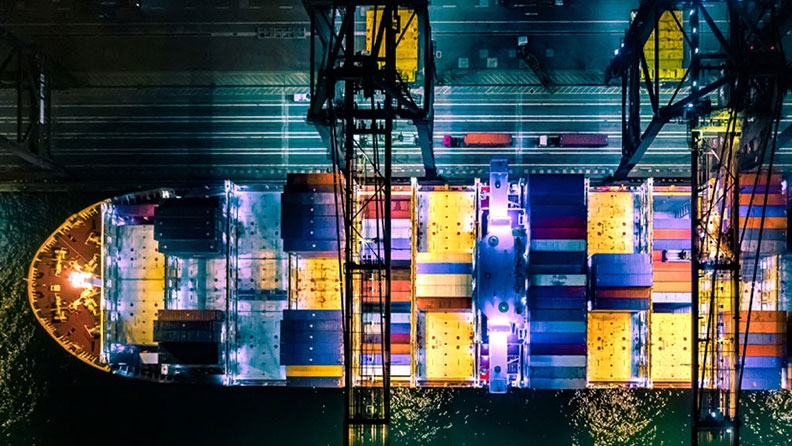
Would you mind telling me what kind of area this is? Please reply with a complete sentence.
This image shows a port.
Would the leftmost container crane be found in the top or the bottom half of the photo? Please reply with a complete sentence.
The leftmost container crane is in the top half of the image.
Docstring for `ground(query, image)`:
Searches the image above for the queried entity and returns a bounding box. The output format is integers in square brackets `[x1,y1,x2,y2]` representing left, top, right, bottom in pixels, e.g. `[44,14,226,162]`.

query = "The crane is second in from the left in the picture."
[302,0,452,446]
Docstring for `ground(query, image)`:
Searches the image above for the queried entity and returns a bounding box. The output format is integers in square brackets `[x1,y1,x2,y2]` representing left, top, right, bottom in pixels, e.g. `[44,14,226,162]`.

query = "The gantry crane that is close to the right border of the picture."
[597,0,792,446]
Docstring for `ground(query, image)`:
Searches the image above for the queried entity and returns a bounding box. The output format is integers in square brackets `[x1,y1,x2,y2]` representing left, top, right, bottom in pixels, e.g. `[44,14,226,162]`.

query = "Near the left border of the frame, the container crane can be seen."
[0,29,90,180]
